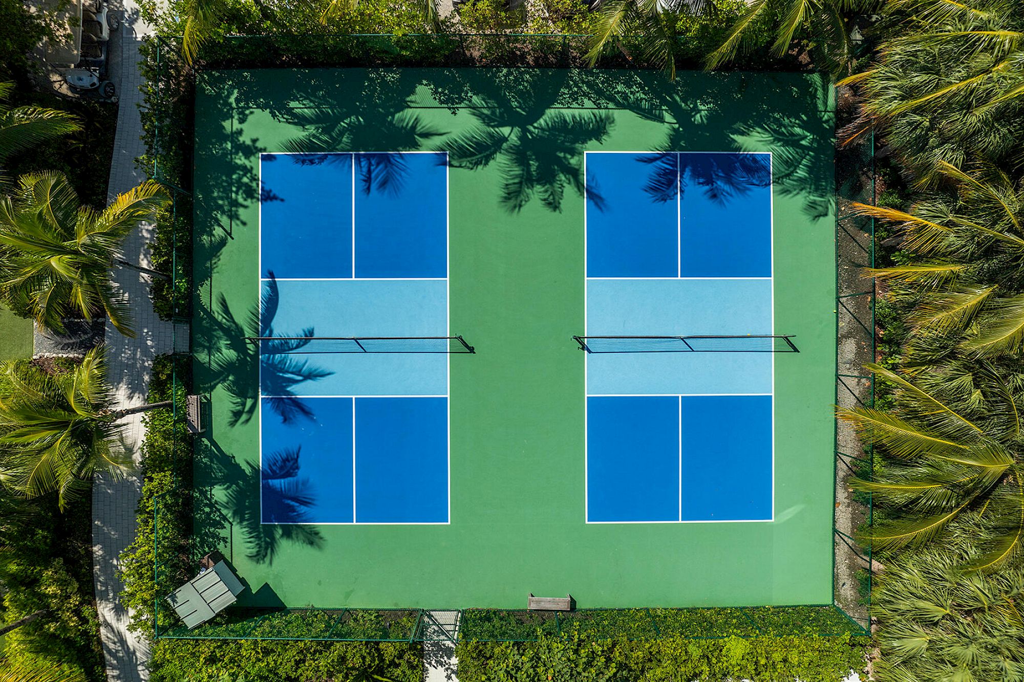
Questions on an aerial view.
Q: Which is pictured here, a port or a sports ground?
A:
sports ground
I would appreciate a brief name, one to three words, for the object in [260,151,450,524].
sports court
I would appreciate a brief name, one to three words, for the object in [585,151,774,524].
sports court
